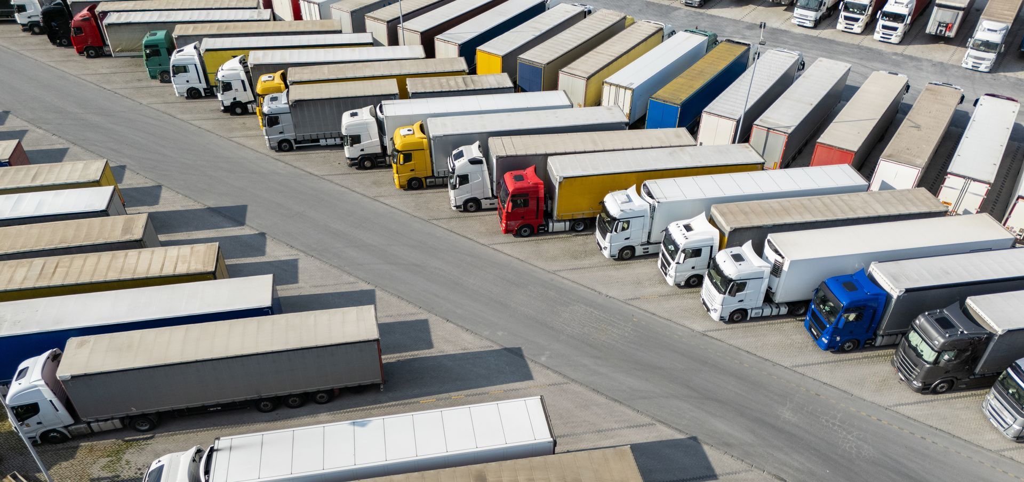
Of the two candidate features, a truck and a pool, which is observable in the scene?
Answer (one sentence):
Of the two, only a truck appears.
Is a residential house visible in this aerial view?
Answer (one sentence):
No, the picture doesn't show any residential house.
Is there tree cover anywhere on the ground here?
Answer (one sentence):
No, there is no tree cover in the image.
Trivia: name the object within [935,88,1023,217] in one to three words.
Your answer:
truck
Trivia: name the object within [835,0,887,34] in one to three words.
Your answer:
truck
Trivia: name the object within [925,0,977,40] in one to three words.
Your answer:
trailer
